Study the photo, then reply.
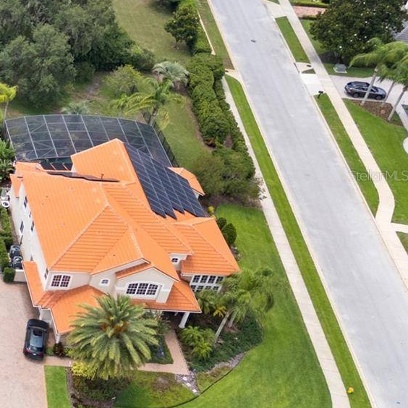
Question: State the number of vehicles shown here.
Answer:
2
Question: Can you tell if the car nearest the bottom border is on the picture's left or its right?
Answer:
left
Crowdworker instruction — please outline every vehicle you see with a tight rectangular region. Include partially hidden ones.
[24,318,52,362]
[342,76,387,97]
